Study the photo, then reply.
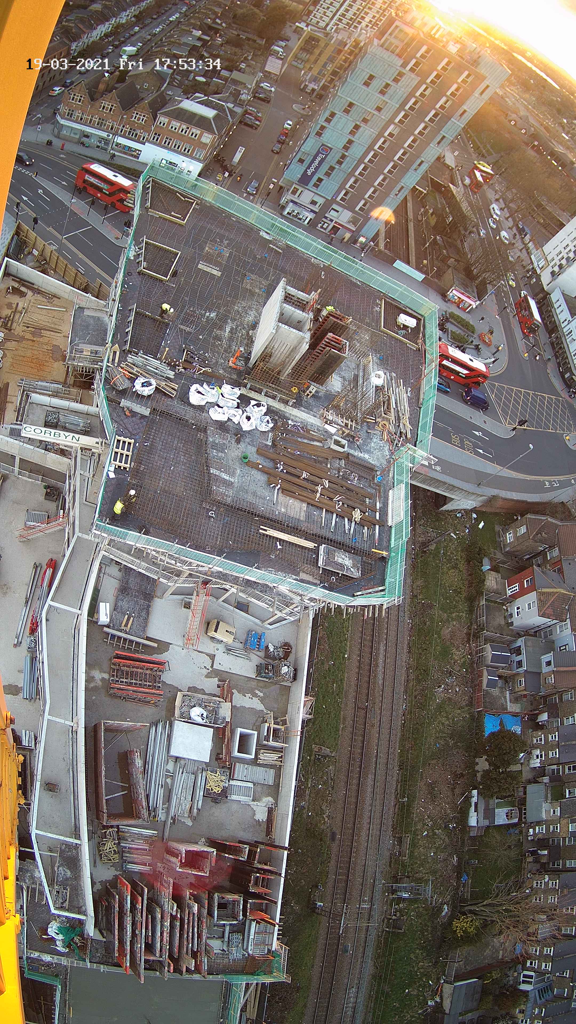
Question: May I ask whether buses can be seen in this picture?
Yes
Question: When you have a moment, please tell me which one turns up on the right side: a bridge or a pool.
bridge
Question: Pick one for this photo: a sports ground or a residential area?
residential area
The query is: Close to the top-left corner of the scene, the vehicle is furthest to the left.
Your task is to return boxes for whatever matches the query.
[18,150,41,166]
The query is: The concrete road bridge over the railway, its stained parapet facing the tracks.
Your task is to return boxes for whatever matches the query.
[406,462,493,521]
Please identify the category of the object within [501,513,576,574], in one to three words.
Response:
house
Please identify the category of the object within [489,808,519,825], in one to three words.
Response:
shed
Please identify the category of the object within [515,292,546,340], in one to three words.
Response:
bus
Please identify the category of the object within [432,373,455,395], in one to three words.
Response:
car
